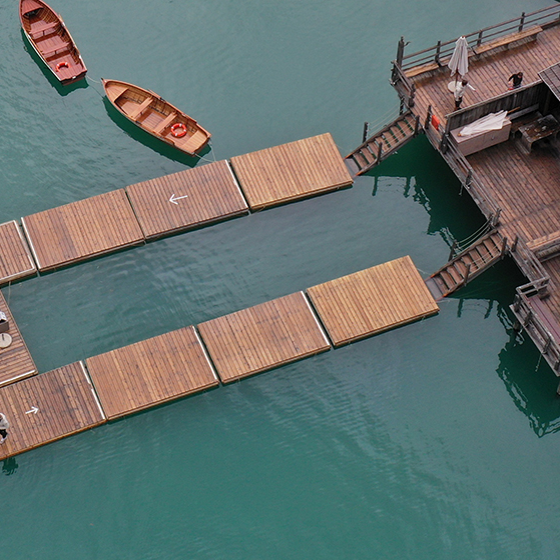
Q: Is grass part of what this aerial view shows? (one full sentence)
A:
No, there is no grass in the image.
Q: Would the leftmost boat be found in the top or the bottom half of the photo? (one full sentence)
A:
You can find the leftmost boat in the top half.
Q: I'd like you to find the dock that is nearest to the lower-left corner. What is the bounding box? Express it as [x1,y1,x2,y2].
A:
[0,362,108,460]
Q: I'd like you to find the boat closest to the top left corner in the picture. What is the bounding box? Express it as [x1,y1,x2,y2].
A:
[20,0,88,86]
